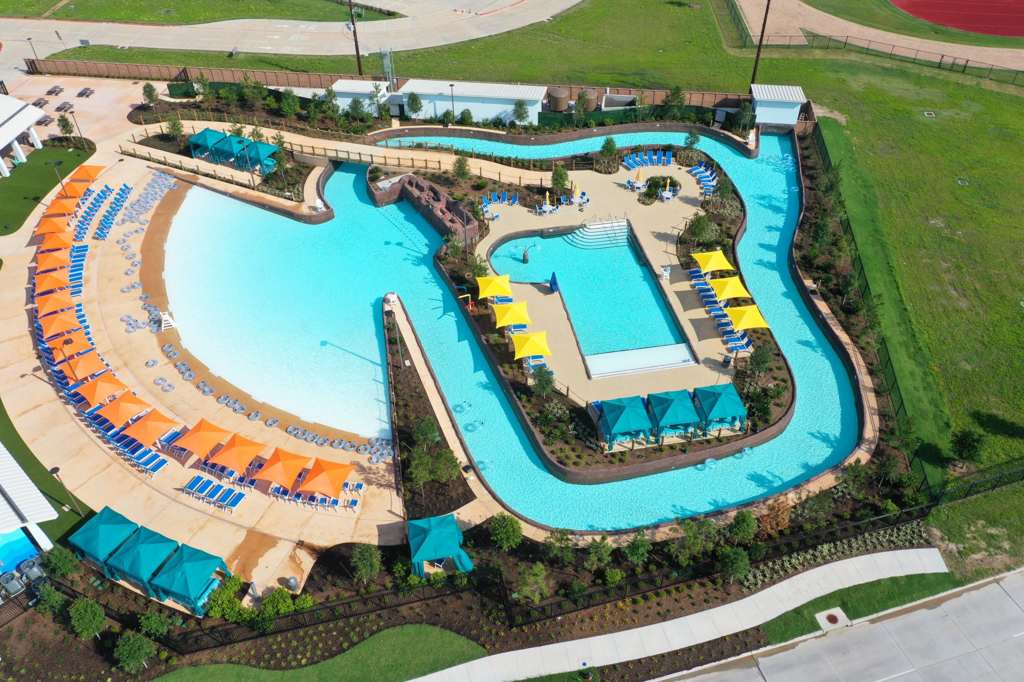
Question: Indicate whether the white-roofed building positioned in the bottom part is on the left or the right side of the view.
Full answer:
You can find the white-roofed building positioned in the bottom part on the left side of the picture.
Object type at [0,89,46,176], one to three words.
building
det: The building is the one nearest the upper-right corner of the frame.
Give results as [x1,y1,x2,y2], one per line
[752,81,807,125]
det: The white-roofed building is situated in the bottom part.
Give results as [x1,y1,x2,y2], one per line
[0,443,60,572]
